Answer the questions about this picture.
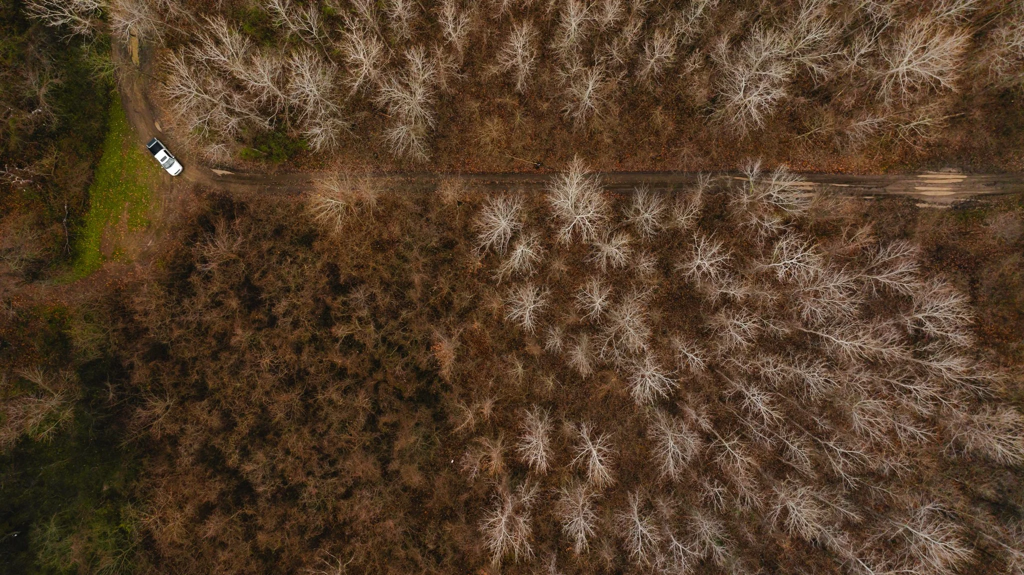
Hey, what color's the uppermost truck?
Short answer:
white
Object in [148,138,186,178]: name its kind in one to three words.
truck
